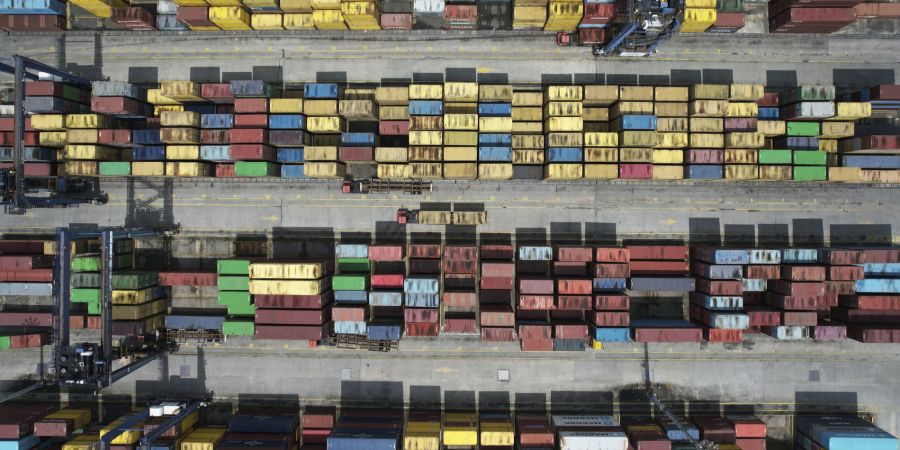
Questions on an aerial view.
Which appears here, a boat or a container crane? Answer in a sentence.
I can see a container crane in this picture.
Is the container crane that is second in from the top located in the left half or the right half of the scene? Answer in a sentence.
You can find the container crane that is second in from the top on the left side of the picture.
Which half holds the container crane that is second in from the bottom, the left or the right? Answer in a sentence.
The container crane that is second in from the bottom is on the left side of the image.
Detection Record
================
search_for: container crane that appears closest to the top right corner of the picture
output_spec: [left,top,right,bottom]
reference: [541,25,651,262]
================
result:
[600,0,694,59]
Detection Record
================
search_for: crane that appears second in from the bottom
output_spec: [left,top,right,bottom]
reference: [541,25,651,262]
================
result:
[54,221,175,391]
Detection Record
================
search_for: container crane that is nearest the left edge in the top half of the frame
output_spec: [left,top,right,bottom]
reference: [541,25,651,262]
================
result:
[0,47,105,209]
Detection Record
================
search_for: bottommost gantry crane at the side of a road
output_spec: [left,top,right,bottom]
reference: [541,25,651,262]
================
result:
[98,399,207,450]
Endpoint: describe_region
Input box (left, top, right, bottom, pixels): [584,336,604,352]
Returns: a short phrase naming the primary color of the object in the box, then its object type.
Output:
yellow vehicle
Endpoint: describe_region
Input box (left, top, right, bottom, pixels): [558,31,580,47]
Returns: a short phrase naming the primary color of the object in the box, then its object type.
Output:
red vehicle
